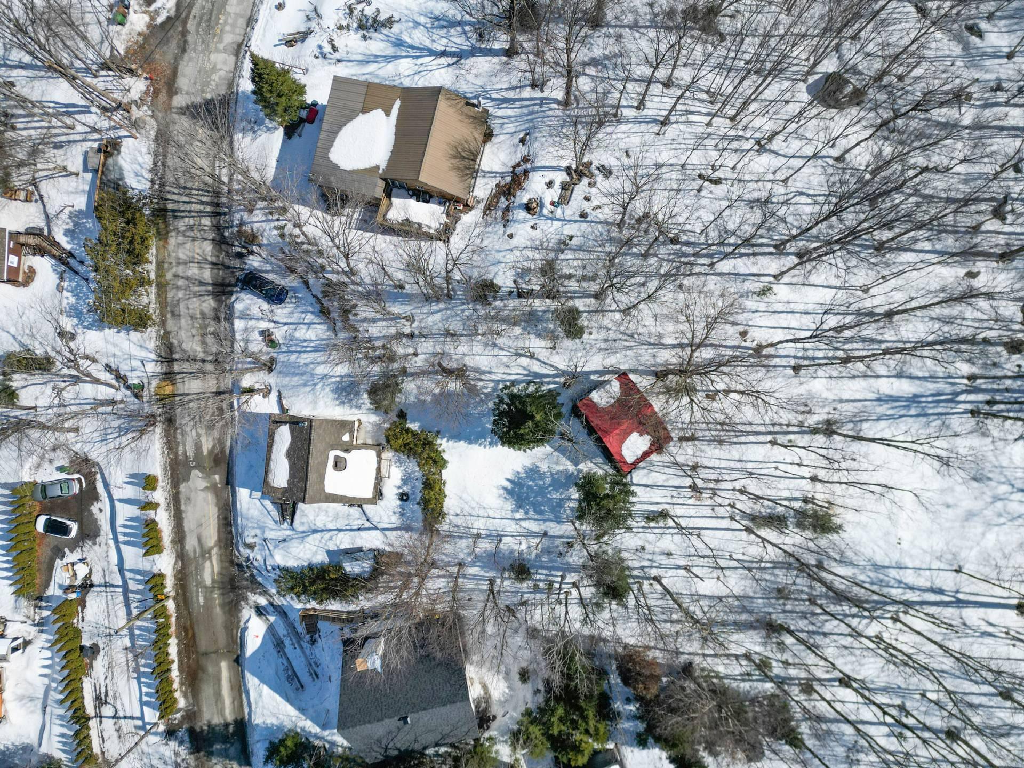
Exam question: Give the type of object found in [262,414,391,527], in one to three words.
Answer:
house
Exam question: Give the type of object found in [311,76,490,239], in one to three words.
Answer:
house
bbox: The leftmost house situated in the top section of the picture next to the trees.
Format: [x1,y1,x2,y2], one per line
[0,228,91,293]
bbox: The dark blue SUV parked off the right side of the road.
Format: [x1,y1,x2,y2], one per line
[235,268,286,304]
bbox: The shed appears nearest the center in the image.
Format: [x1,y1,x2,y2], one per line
[575,372,673,473]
